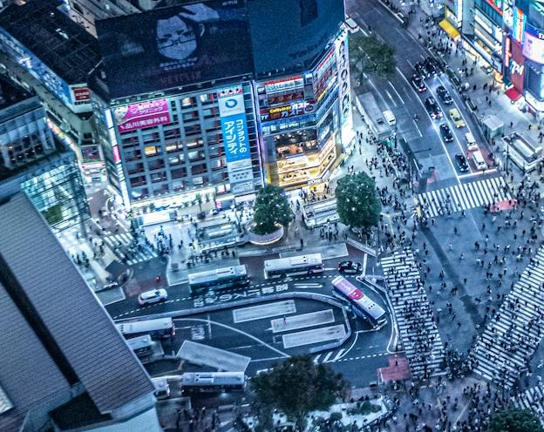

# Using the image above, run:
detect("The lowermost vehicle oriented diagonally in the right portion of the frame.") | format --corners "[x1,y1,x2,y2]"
[333,275,388,328]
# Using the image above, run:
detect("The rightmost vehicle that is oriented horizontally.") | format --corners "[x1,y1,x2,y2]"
[335,262,363,275]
